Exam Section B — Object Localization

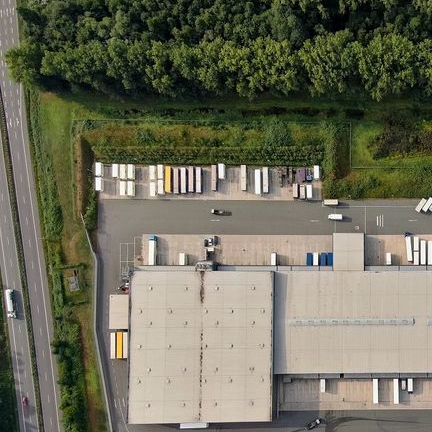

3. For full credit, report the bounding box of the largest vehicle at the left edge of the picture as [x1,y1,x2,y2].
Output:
[7,288,20,318]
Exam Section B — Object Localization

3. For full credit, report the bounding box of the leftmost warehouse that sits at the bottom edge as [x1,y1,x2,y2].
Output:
[128,266,280,429]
